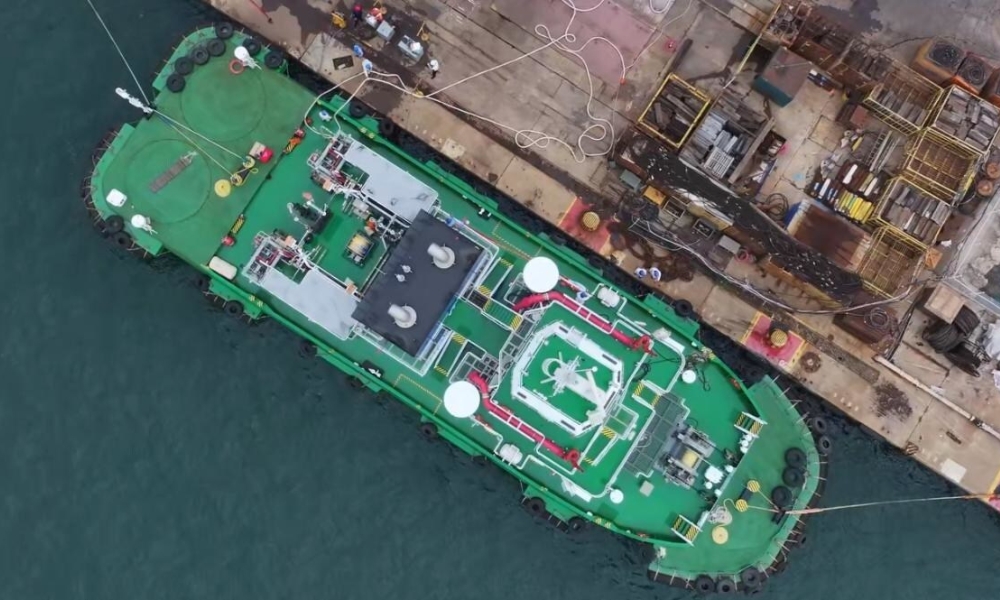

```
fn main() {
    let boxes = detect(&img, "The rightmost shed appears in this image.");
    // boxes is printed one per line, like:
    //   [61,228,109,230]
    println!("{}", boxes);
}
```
[759,47,812,104]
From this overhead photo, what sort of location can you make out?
port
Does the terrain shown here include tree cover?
No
